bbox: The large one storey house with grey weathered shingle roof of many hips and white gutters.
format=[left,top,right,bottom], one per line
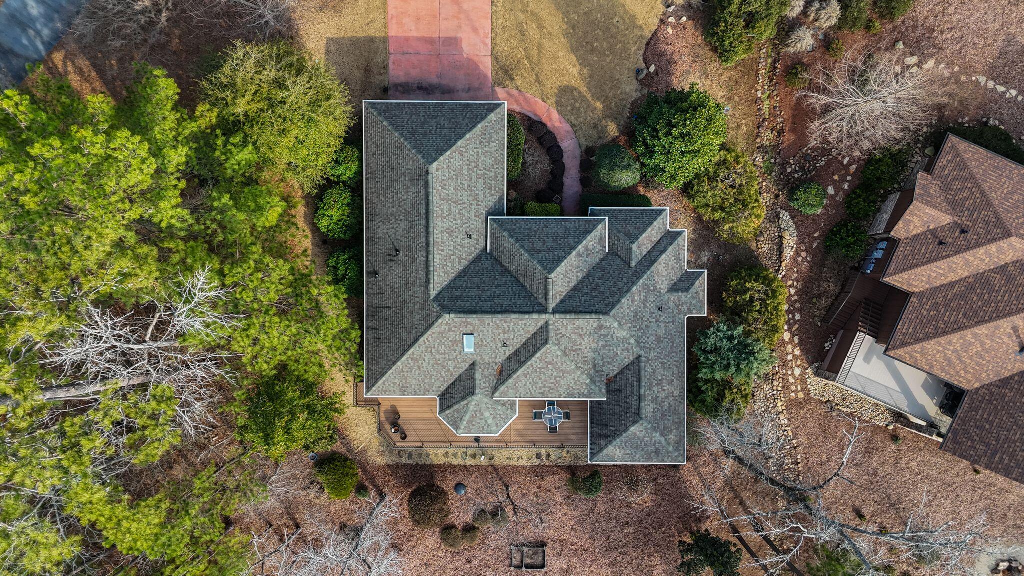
[362,100,708,466]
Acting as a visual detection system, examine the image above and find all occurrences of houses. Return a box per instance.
[866,131,1024,486]
[362,100,708,466]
